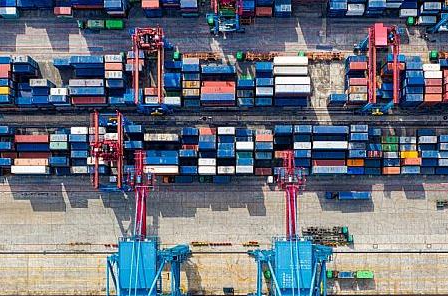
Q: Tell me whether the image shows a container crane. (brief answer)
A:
Yes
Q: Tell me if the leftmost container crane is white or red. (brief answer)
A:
red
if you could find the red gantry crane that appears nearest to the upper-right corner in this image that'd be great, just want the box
[351,13,400,117]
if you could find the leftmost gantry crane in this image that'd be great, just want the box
[91,105,139,189]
